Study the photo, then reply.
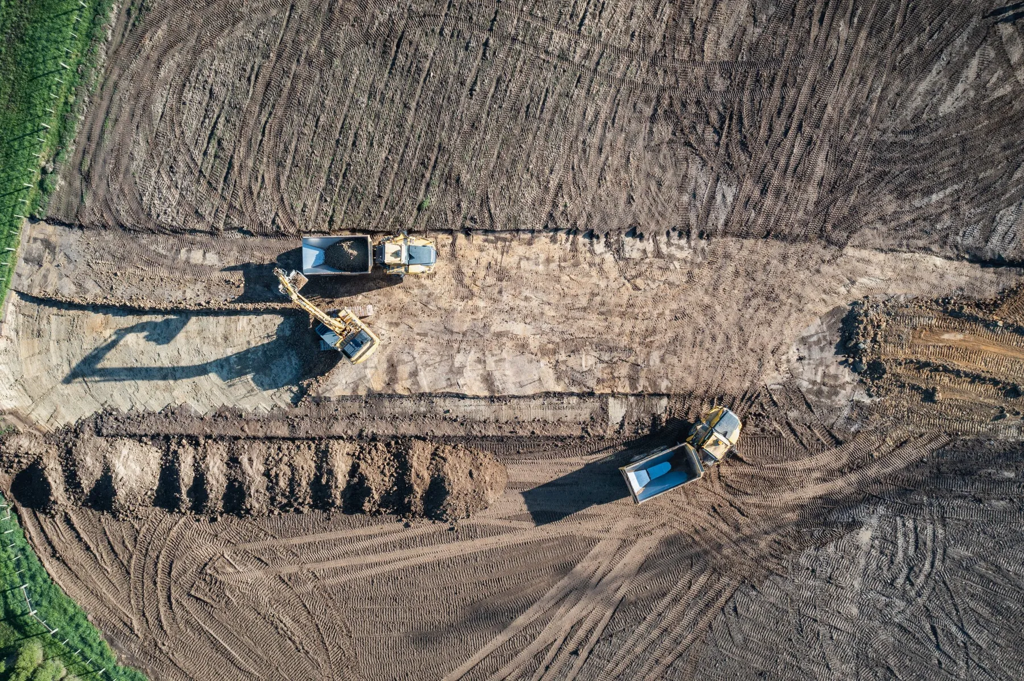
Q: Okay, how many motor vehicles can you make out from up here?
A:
3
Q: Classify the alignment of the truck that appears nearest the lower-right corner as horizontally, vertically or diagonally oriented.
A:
diagonally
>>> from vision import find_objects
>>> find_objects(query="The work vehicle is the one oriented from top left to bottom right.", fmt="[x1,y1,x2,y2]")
[276,267,380,361]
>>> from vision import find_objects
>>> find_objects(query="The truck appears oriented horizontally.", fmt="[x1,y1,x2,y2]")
[300,233,437,279]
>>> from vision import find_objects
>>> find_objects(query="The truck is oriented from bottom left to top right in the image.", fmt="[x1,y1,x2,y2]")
[621,404,741,503]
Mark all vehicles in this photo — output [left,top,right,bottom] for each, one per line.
[276,267,380,361]
[300,233,437,279]
[621,404,741,503]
